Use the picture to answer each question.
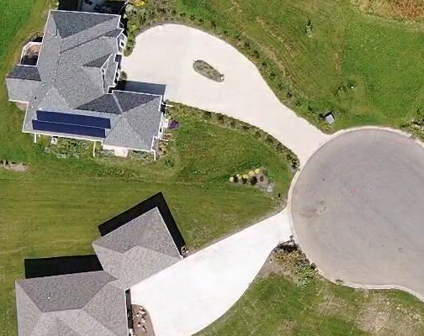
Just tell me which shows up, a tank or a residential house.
residential house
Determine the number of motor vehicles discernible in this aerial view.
0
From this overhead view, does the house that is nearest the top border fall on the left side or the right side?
left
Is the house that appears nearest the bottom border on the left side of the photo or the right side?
left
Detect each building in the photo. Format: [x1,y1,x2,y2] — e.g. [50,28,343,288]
[15,207,187,336]
[7,9,170,161]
